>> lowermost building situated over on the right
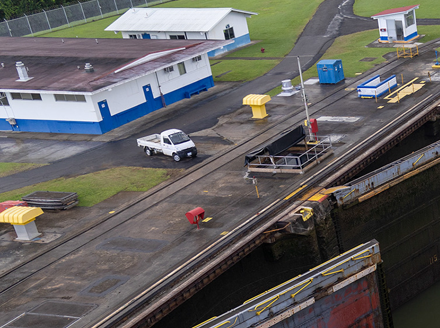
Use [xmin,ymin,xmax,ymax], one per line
[315,58,350,83]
